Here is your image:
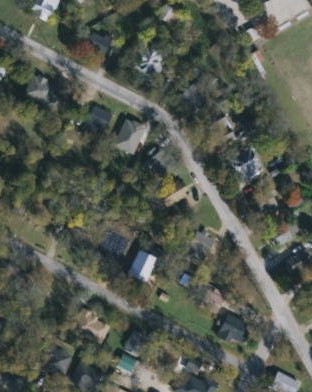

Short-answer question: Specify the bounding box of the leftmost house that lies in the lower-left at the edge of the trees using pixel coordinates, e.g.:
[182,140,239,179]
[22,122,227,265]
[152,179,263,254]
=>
[46,350,74,375]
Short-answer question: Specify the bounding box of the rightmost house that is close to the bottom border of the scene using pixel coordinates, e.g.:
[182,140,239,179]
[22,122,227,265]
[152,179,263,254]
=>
[270,370,302,392]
